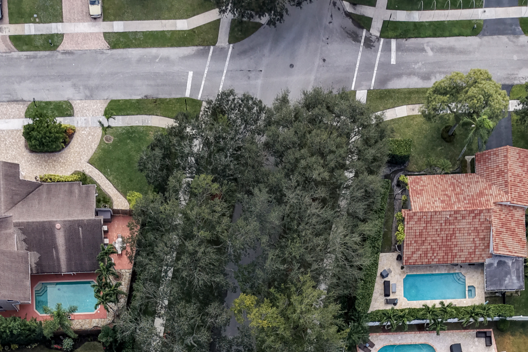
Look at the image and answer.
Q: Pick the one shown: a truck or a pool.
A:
pool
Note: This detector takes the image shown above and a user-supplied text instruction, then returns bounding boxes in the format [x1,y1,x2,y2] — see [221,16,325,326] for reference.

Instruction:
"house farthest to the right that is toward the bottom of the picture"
[398,145,528,298]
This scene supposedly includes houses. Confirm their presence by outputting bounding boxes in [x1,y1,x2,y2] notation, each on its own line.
[398,145,528,298]
[0,160,104,311]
